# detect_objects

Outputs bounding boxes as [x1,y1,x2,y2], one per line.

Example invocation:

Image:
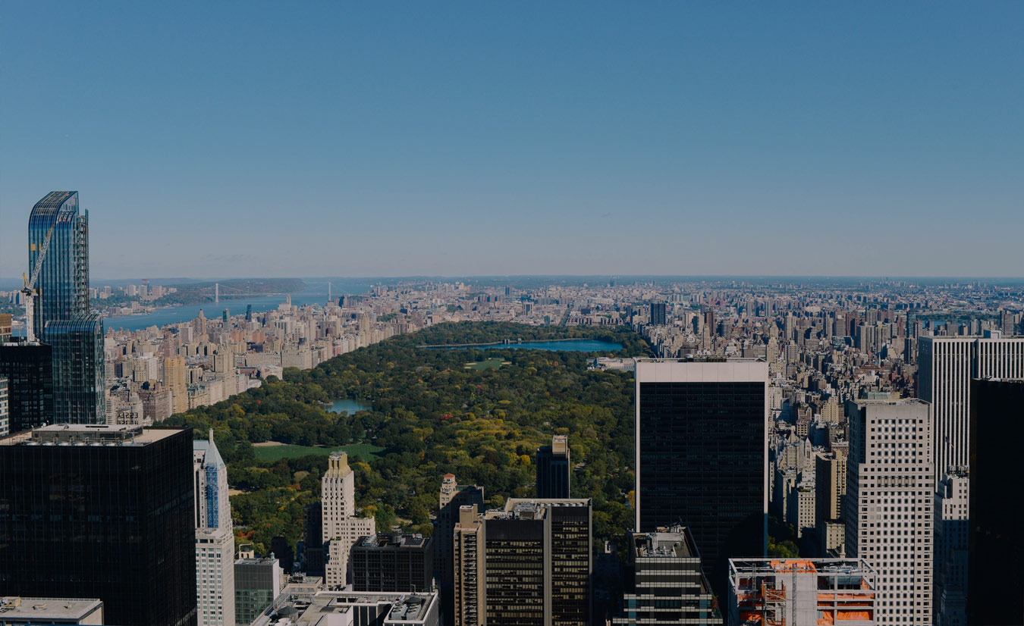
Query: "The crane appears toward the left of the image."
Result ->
[17,219,58,339]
